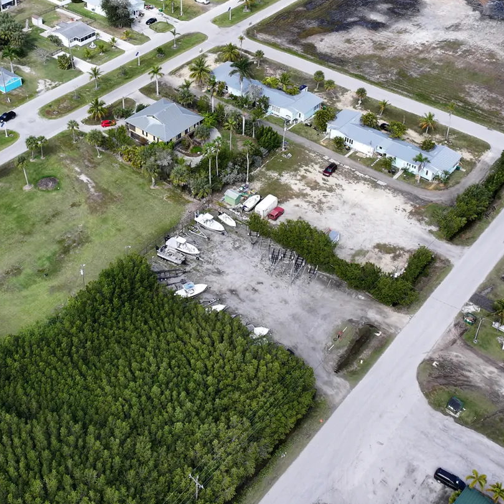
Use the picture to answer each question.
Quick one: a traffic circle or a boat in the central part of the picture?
boat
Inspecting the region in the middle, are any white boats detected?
Yes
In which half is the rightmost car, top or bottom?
bottom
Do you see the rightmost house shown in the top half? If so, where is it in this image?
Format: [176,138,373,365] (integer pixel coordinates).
[328,113,460,185]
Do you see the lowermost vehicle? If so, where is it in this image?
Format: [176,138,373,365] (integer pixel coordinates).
[432,464,466,492]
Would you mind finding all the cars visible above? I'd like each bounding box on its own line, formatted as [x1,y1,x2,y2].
[98,119,118,128]
[267,207,284,220]
[324,163,336,177]
[144,19,159,25]
[0,113,16,122]
[432,464,466,492]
